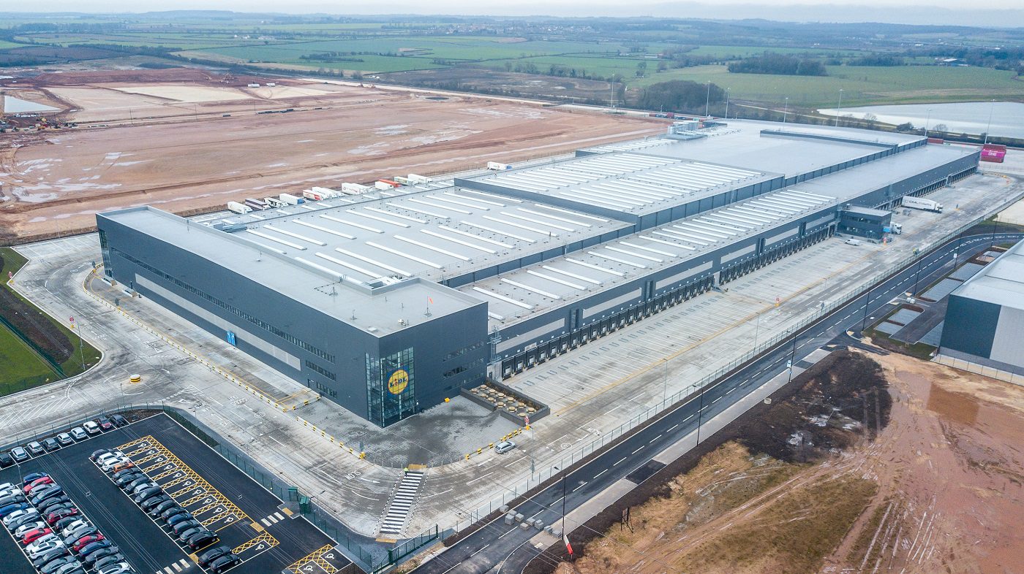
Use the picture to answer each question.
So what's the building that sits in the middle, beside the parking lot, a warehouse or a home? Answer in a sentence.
I'd say the building that sits in the middle, beside the parking lot is a warehouse.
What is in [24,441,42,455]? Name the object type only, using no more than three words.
car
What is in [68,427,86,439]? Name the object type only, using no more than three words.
vehicle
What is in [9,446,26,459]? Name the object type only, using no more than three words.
vehicle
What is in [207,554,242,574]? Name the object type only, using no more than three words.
car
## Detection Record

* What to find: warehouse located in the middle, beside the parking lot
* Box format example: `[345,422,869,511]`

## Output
[97,119,985,429]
